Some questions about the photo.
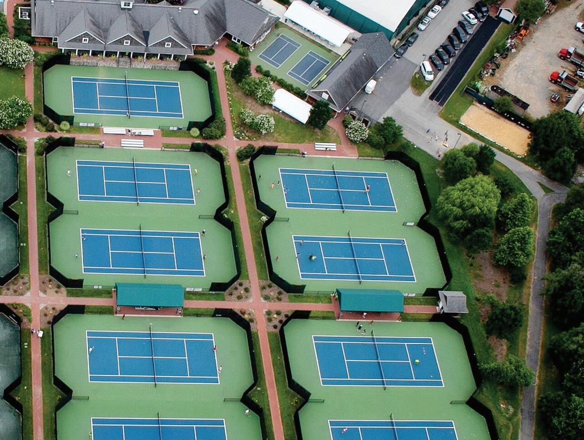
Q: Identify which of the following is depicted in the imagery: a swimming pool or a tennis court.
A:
tennis court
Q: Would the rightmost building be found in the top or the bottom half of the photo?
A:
top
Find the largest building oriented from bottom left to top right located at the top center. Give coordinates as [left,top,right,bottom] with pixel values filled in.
[303,34,396,122]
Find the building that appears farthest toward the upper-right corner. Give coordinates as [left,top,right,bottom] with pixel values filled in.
[497,0,525,25]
